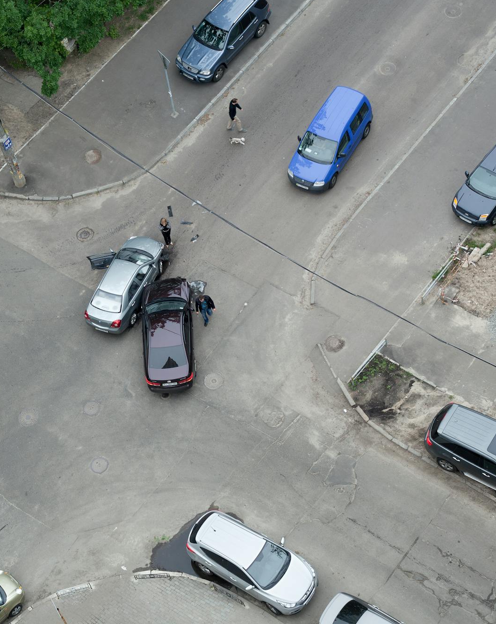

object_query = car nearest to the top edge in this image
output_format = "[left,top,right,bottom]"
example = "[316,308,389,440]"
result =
[174,0,270,83]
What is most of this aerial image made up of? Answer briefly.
paved ground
